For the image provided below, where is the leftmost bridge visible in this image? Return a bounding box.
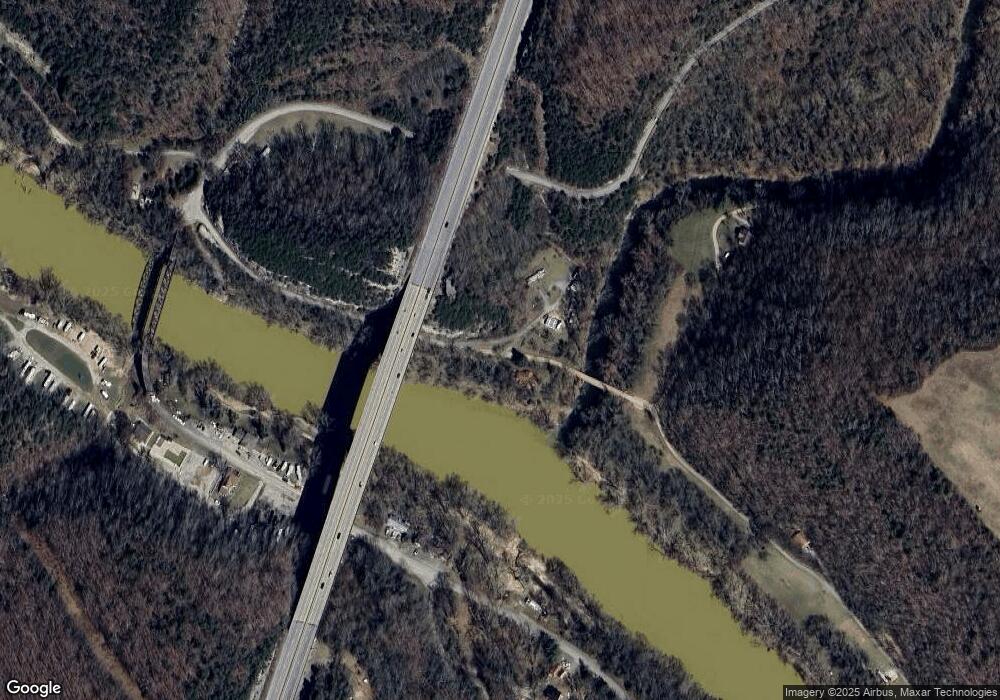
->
[146,229,181,348]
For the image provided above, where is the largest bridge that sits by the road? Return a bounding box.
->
[293,280,435,626]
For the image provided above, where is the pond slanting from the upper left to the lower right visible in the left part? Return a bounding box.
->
[26,329,93,388]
